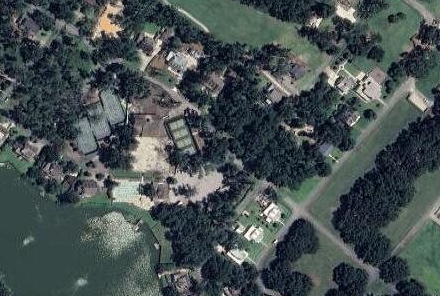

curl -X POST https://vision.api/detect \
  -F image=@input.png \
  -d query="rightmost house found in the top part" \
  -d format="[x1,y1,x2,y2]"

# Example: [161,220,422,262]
[352,64,385,106]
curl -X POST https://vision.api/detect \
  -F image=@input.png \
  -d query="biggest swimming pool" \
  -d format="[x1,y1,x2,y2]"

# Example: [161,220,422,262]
[111,180,141,202]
